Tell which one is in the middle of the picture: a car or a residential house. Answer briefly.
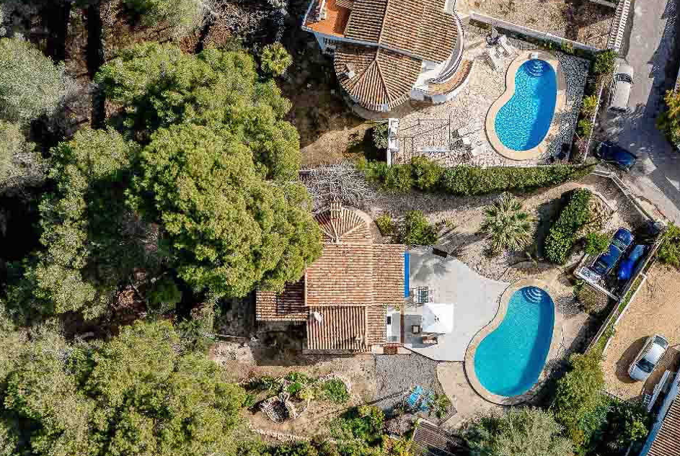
residential house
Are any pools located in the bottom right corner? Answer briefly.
Yes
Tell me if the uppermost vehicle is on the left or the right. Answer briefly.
right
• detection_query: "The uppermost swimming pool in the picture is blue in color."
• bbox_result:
[486,50,566,160]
